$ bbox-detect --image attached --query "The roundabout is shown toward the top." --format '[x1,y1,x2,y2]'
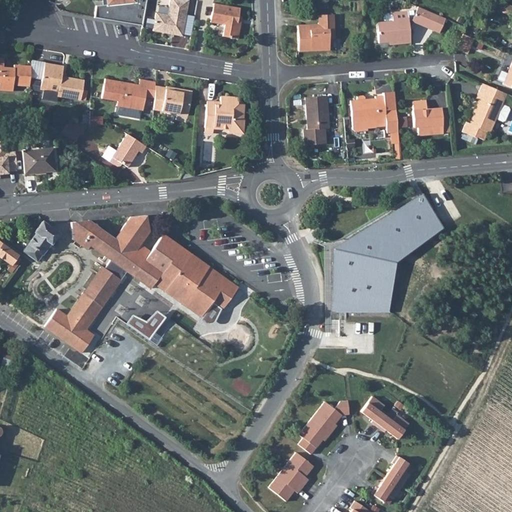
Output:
[244,168,297,220]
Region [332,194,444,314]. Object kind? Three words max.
building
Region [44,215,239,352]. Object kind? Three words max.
building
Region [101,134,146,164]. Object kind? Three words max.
house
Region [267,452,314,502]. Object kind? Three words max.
house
